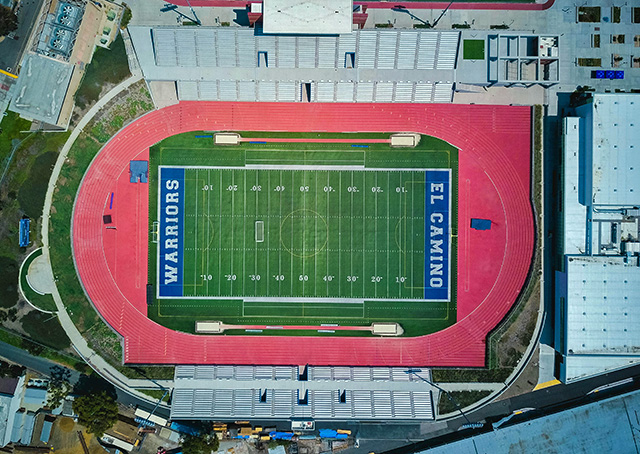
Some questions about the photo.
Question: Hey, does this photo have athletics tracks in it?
Yes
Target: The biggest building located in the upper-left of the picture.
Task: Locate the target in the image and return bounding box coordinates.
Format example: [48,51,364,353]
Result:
[8,52,85,128]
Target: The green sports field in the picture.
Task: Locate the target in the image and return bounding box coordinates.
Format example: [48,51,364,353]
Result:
[148,131,461,338]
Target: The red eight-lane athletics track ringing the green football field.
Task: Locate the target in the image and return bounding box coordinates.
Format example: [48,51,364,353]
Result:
[72,101,534,367]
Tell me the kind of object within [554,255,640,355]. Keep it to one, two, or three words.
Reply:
building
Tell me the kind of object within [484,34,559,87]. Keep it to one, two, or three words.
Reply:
building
